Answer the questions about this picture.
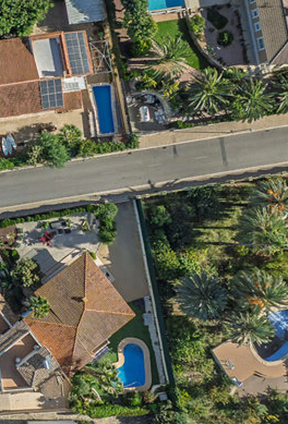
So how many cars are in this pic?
zero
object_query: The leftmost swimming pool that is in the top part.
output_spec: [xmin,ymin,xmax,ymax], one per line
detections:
[91,84,117,135]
